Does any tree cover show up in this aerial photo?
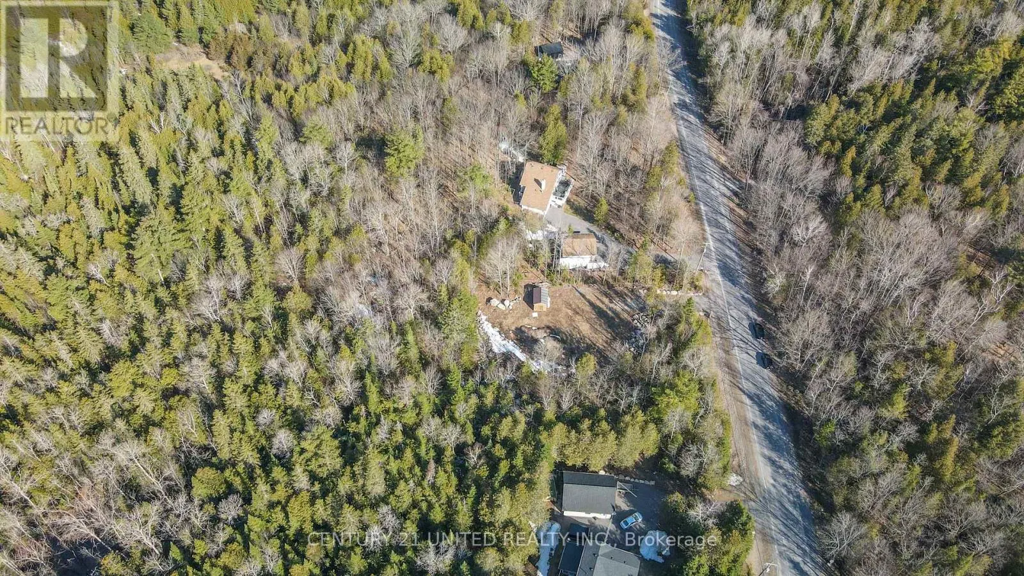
Yes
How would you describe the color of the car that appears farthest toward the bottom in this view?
blue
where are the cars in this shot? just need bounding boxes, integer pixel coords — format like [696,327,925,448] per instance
[617,510,644,531]
[752,322,766,340]
[760,350,775,369]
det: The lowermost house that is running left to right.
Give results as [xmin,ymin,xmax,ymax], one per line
[557,539,643,576]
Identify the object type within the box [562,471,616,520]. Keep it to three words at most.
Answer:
building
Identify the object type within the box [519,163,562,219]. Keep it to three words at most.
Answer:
house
